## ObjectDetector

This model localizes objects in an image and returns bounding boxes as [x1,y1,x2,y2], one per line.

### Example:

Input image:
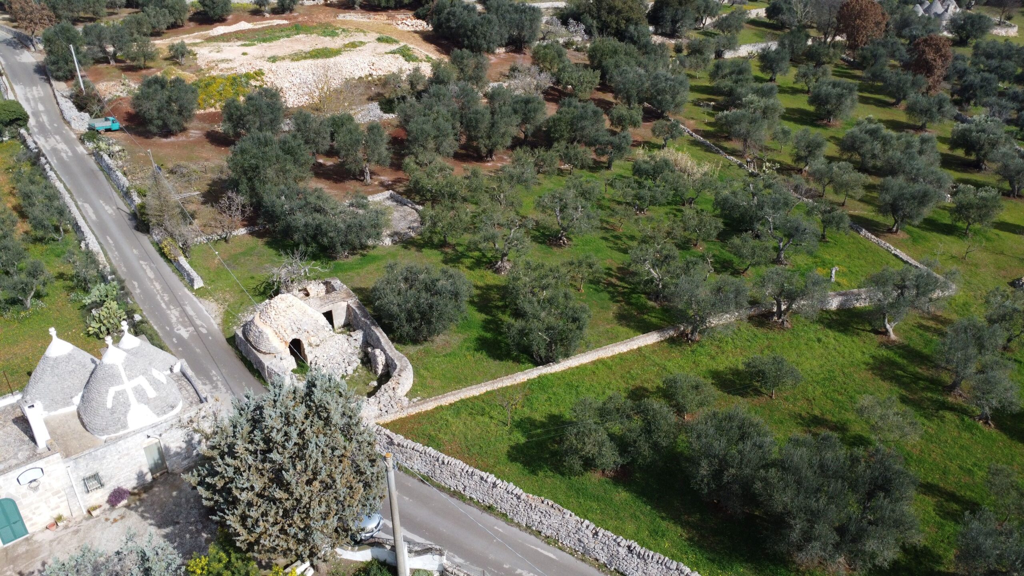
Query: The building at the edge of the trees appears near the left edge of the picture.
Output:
[0,317,223,550]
